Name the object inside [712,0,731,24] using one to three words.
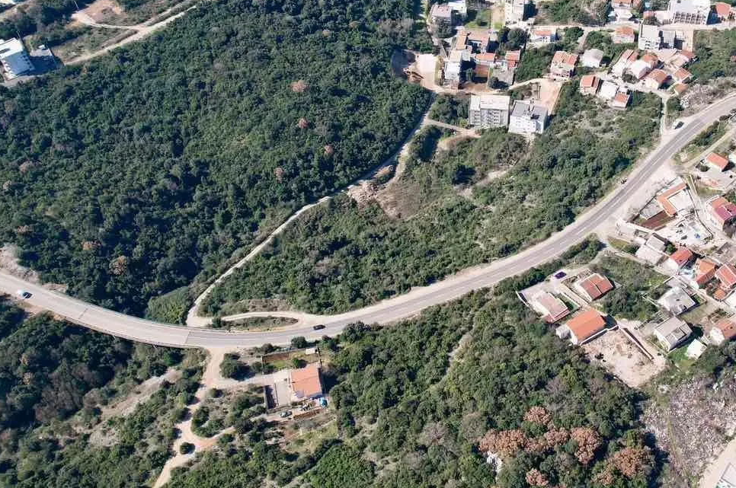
house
